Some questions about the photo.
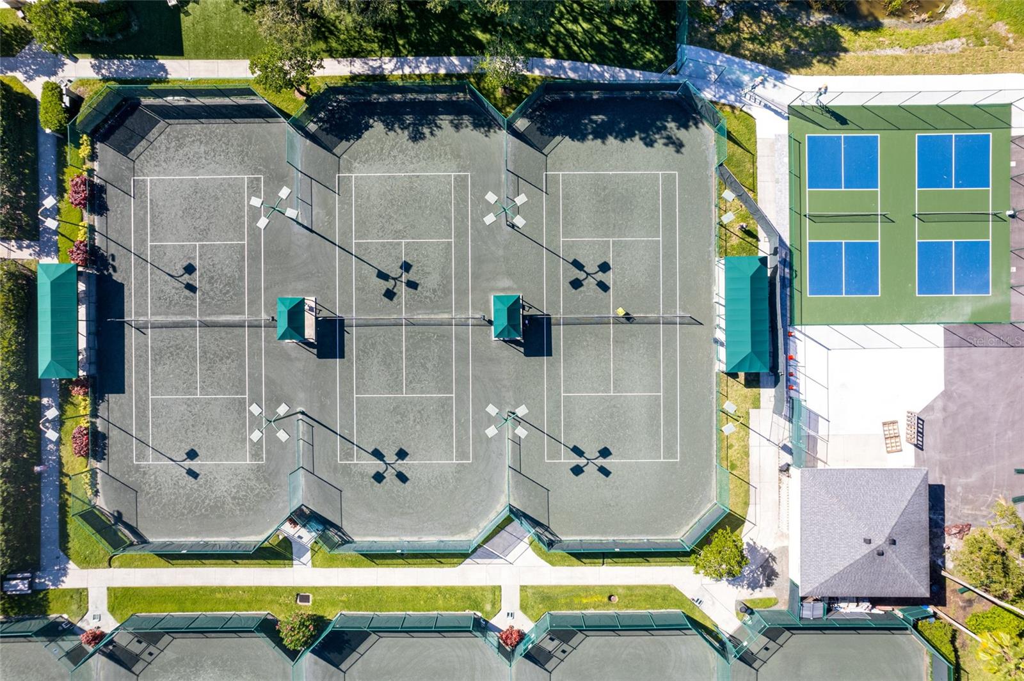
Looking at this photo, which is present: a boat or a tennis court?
tennis court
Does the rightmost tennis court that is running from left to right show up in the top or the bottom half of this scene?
bottom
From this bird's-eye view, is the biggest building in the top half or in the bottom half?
bottom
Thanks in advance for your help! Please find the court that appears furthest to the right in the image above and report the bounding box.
[898,104,1011,324]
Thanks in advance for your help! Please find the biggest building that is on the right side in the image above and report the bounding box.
[791,466,930,598]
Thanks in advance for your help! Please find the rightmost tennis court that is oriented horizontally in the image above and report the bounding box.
[718,611,926,681]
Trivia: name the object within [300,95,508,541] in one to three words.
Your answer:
tennis court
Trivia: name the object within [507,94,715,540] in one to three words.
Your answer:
tennis court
